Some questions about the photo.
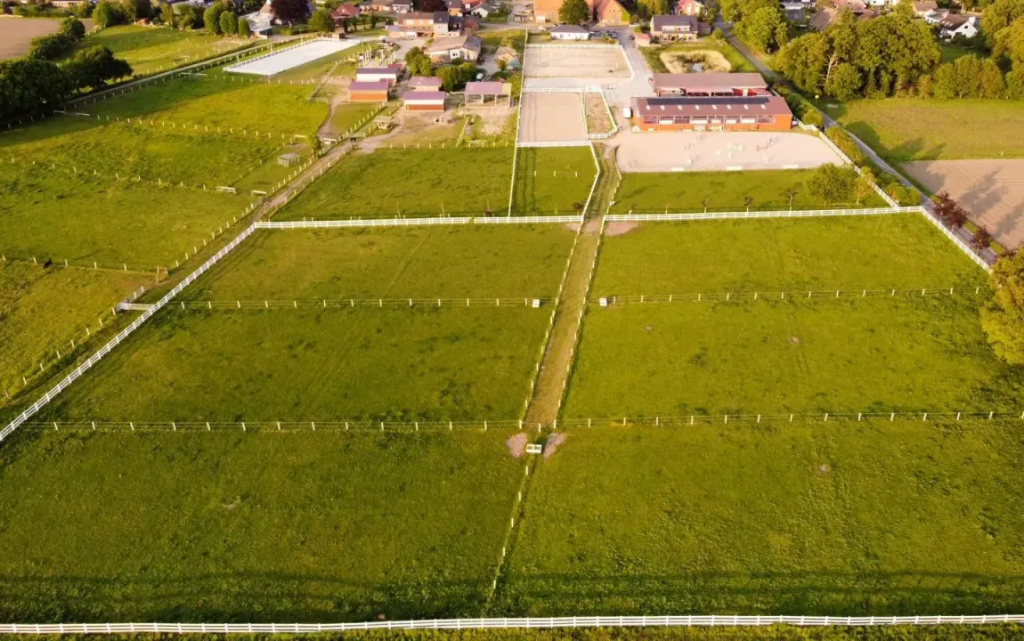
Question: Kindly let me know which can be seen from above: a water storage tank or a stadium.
stadium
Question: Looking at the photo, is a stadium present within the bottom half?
No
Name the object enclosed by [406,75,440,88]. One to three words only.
shed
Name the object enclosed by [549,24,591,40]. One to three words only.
house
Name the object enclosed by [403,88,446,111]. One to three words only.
shed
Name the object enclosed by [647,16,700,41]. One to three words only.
house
